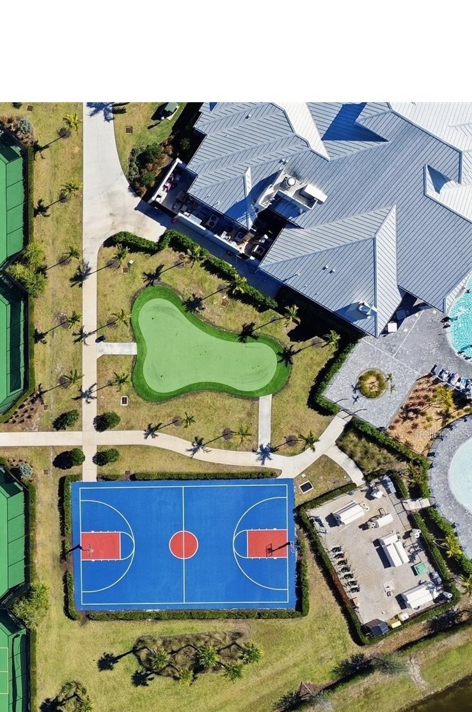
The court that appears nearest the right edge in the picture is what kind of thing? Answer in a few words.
basketball court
